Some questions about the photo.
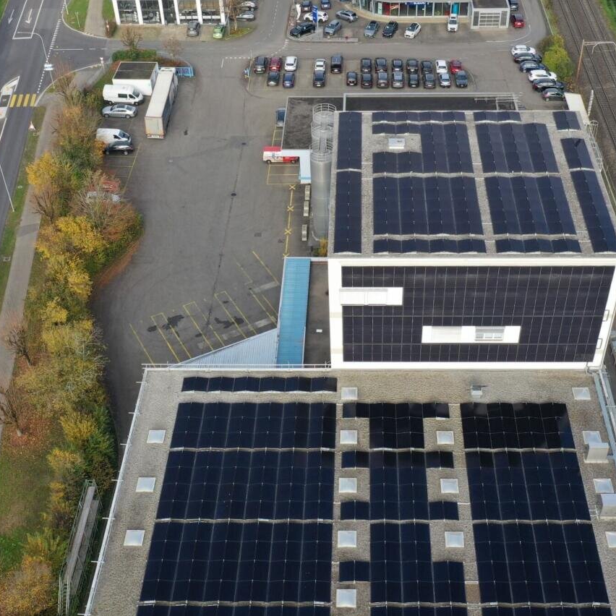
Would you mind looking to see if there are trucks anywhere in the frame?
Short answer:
Yes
